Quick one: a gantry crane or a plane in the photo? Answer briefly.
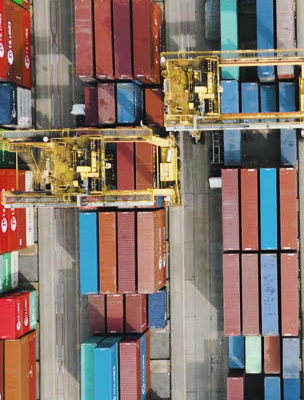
gantry crane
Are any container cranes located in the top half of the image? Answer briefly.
Yes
